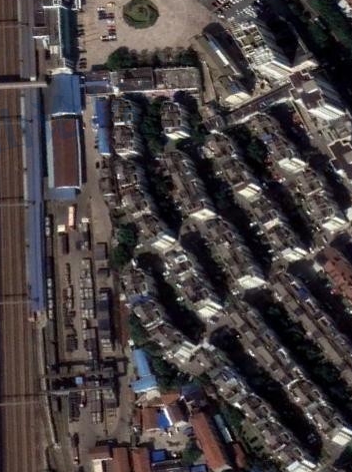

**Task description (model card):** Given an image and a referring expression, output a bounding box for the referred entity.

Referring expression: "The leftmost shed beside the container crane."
[99,291,113,351]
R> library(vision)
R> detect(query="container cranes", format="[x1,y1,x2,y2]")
[43,370,114,400]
